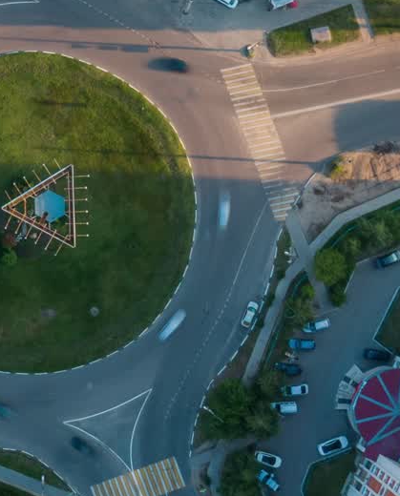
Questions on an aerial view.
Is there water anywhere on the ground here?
No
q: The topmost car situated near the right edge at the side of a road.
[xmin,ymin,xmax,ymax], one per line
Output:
[376,250,400,268]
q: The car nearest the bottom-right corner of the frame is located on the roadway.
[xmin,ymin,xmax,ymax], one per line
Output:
[319,436,347,454]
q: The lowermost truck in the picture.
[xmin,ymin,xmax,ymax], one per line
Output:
[253,469,281,492]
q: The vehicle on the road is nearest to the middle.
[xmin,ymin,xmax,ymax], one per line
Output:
[217,194,232,223]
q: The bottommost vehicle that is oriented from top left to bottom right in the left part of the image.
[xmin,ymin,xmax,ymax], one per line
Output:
[69,434,94,455]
